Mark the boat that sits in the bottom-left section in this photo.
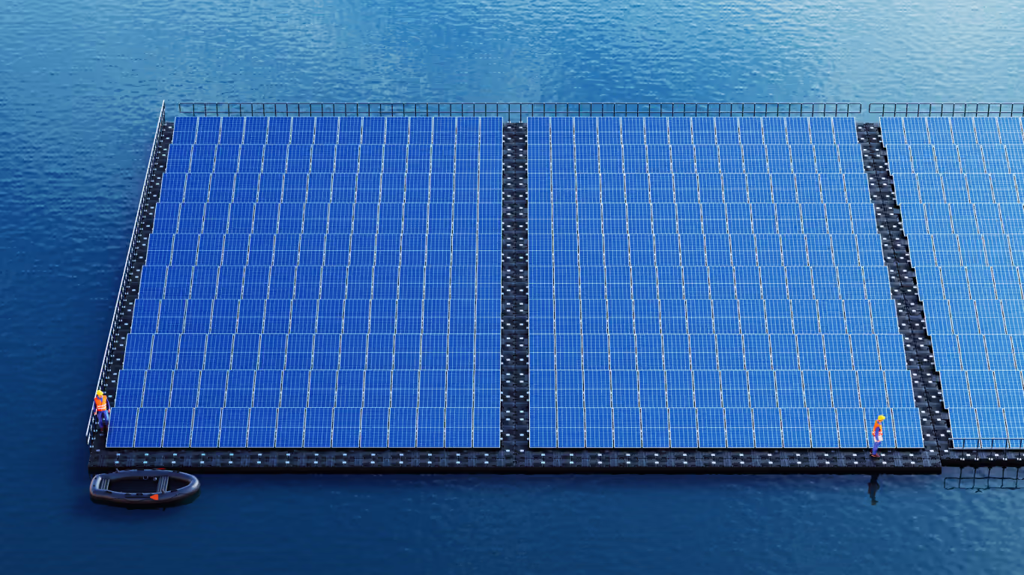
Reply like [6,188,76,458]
[91,468,202,504]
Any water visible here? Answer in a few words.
Yes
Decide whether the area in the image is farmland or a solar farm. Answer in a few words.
solar farm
